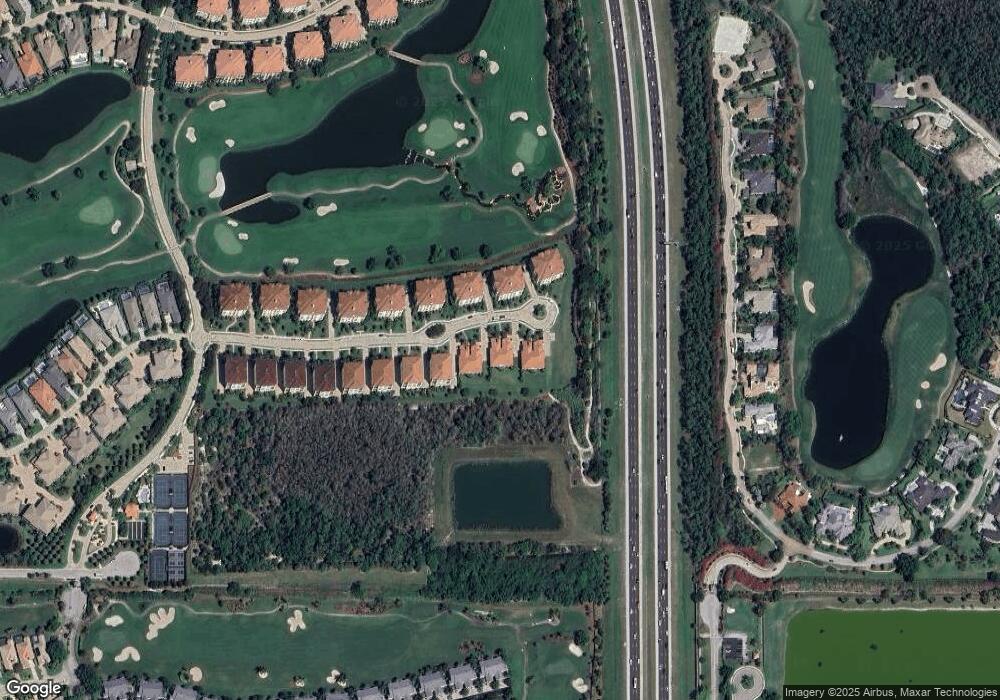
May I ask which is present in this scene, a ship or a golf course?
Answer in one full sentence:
I can see a golf course in this picture.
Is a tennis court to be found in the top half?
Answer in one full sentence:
No, no tennis court can be made out in the top half.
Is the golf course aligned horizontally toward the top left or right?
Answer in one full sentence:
It is on the left.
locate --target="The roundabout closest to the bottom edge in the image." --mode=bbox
[731,665,765,698]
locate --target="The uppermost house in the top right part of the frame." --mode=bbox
[747,50,778,79]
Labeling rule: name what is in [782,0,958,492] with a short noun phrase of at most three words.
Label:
golf course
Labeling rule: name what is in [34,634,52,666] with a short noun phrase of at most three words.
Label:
house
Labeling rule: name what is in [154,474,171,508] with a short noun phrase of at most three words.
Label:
tennis court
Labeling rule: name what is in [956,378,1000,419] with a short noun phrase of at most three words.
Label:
house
